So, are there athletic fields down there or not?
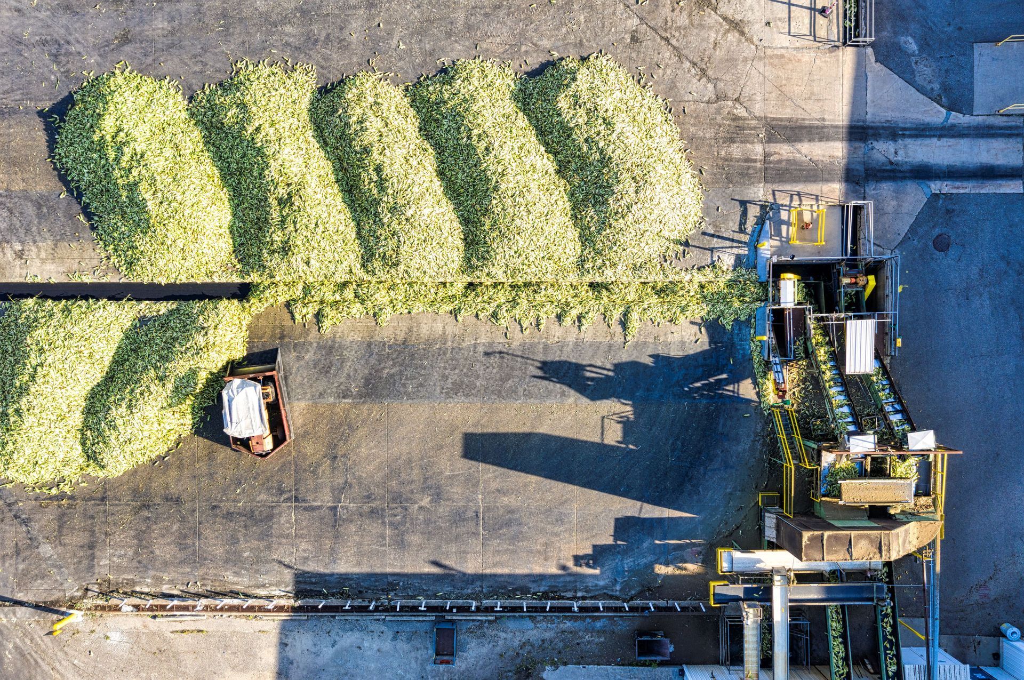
No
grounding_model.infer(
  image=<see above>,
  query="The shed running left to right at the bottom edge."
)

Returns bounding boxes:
[894,647,967,680]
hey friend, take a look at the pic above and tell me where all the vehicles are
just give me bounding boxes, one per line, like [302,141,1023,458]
[217,349,295,460]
